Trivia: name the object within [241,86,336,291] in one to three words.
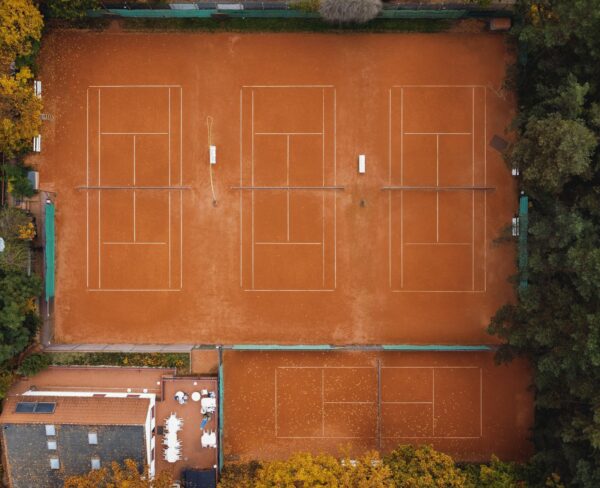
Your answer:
tennis court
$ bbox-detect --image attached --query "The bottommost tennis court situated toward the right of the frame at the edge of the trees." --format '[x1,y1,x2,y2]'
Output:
[275,367,482,438]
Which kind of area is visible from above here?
sports ground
